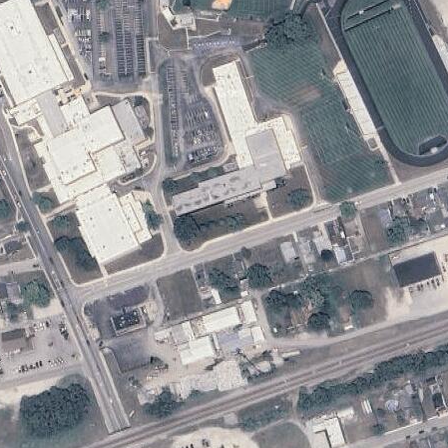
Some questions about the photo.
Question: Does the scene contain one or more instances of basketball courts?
No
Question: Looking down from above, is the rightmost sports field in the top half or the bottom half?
top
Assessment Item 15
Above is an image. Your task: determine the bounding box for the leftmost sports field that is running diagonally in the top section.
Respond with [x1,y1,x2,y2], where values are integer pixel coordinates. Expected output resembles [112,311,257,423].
[252,39,386,200]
